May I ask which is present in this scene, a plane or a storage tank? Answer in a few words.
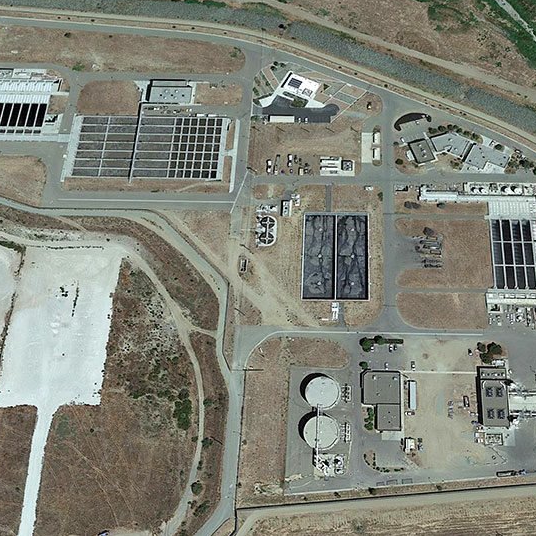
storage tank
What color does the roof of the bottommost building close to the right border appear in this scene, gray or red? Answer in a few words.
gray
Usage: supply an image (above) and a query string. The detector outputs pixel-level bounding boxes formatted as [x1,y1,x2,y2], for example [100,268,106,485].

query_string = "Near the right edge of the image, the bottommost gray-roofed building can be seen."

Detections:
[481,380,510,426]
